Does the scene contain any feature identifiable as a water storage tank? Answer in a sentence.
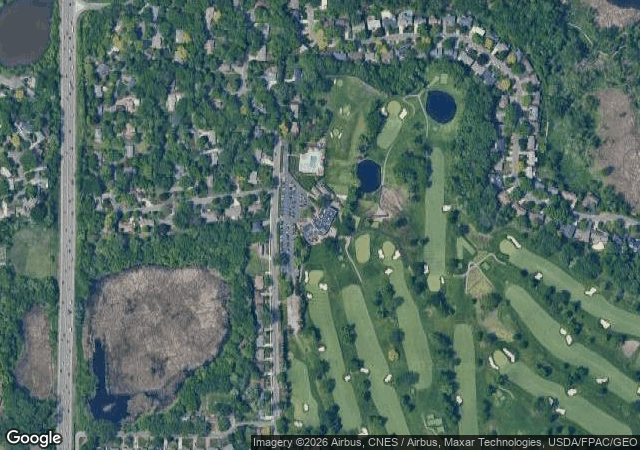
No, the picture doesn't show any water storage tank.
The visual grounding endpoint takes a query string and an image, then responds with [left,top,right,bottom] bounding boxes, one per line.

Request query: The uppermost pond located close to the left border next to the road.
[0,0,54,66]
